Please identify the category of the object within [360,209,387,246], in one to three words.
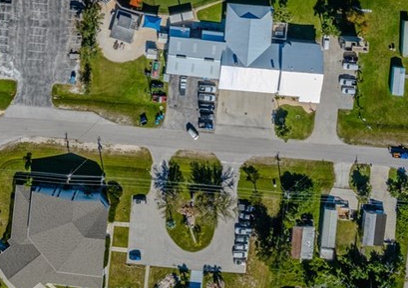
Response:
house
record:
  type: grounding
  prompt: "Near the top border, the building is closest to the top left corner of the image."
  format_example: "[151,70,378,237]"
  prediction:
[109,9,141,44]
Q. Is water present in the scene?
No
